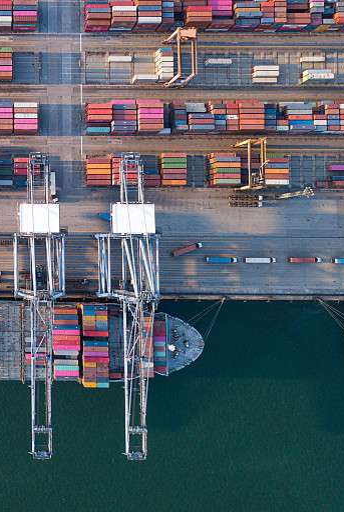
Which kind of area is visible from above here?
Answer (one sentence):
It's a port.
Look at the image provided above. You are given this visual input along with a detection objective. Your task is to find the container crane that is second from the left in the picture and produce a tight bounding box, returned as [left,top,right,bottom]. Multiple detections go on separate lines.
[92,149,163,460]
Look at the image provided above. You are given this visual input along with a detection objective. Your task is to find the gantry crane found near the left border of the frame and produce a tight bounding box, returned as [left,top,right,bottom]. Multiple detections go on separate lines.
[9,149,70,460]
